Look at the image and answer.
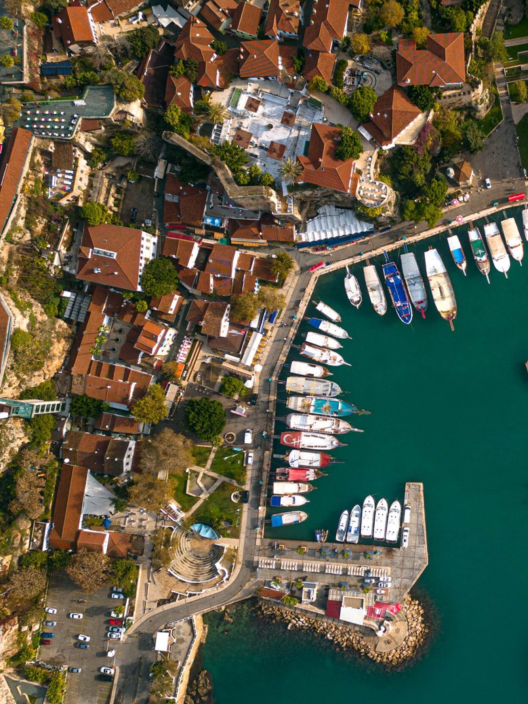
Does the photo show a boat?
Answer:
Yes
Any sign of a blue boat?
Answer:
Yes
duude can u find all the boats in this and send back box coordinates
[287,339,351,364]
[374,499,387,541]
[494,206,522,266]
[273,448,336,468]
[302,313,351,339]
[361,255,383,315]
[296,328,343,347]
[346,505,361,543]
[385,501,400,543]
[268,467,328,481]
[416,238,455,330]
[270,430,345,450]
[263,511,307,528]
[396,241,424,318]
[312,295,342,321]
[263,482,315,495]
[361,495,375,538]
[261,495,309,507]
[468,218,489,284]
[523,205,528,236]
[274,412,362,435]
[483,206,507,278]
[376,249,408,323]
[277,356,333,377]
[338,264,360,312]
[448,224,467,275]
[336,510,348,541]
[274,390,370,416]
[275,372,348,397]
